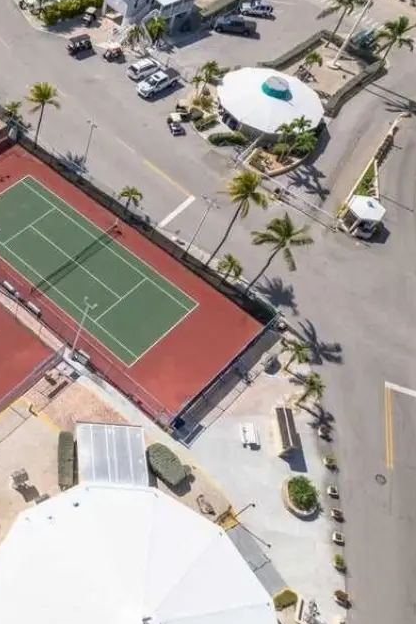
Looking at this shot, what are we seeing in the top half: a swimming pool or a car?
car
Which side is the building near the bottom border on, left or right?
left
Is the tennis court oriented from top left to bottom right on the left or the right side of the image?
left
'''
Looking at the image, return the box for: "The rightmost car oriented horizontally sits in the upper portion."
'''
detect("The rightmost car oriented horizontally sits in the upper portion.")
[239,0,276,17]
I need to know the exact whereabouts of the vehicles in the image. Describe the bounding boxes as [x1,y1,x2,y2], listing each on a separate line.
[68,31,92,52]
[138,69,183,98]
[214,16,260,37]
[82,5,98,26]
[175,94,197,116]
[127,57,163,80]
[104,39,124,59]
[169,110,186,133]
[239,0,276,17]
